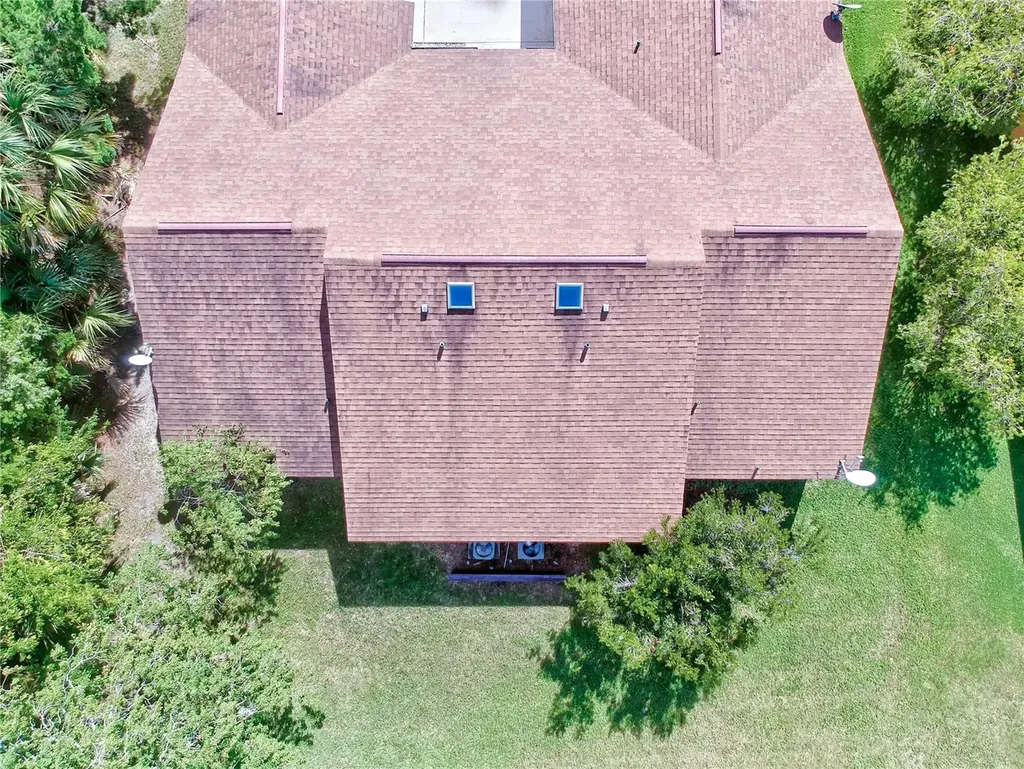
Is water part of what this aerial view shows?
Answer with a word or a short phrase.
No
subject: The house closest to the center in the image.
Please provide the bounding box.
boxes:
[123,0,905,543]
